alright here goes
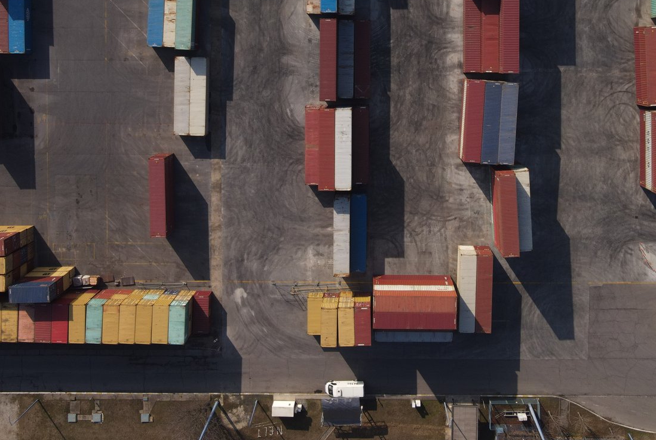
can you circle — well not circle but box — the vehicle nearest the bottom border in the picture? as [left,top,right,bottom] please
[326,376,364,394]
